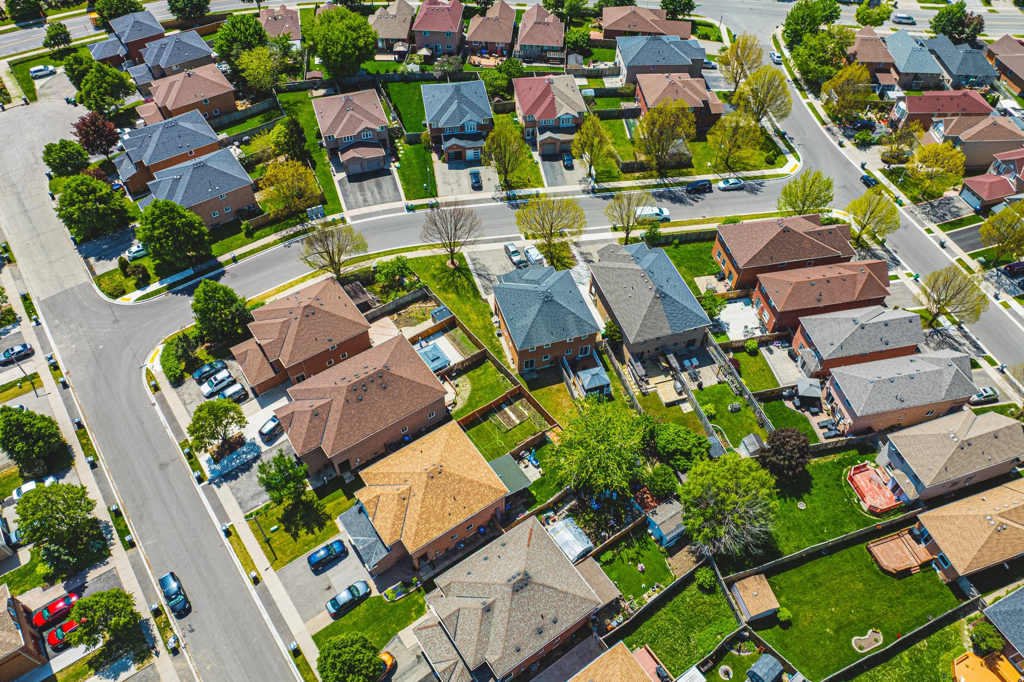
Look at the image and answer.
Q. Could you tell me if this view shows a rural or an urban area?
urban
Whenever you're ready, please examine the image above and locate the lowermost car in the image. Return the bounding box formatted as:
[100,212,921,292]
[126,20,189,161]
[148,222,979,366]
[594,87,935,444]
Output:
[367,655,400,682]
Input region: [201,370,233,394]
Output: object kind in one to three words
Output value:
car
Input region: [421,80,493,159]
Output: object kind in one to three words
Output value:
house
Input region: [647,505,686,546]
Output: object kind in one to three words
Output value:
shed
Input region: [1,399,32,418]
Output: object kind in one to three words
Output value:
car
